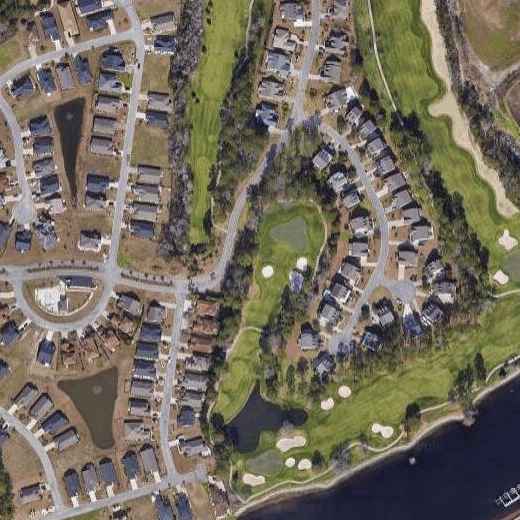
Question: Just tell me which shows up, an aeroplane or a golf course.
golf course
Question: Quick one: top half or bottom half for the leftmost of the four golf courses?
top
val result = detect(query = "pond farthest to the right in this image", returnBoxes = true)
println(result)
[226,380,307,453]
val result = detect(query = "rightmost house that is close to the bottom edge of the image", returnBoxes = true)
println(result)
[211,485,232,519]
